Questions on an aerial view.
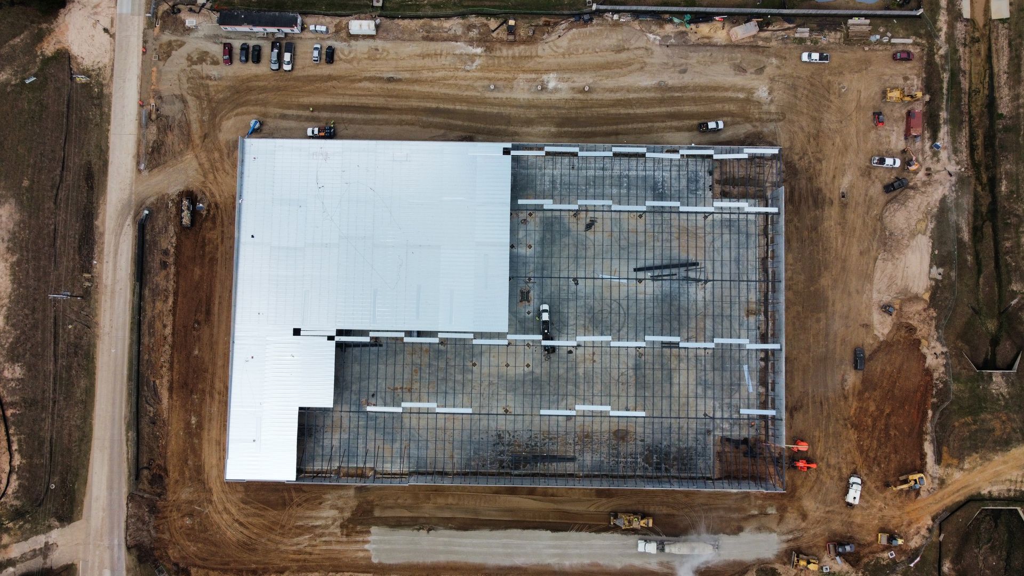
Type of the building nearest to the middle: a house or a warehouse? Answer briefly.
warehouse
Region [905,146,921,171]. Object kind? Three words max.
work vehicle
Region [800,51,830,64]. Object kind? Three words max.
vehicle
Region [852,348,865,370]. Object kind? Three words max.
vehicle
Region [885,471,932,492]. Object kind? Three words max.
work vehicle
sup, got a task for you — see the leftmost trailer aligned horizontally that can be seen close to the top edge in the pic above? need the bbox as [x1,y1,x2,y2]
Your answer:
[219,10,303,36]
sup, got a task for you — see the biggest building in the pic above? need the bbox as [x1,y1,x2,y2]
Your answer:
[226,135,785,492]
